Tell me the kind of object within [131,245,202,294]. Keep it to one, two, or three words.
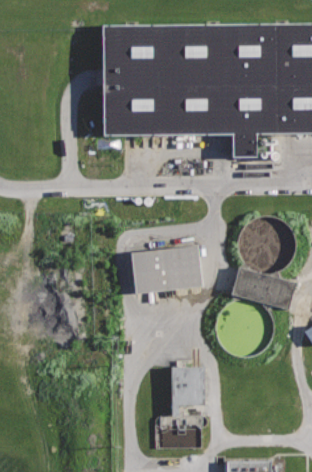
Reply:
building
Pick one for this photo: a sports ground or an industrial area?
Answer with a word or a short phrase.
industrial area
